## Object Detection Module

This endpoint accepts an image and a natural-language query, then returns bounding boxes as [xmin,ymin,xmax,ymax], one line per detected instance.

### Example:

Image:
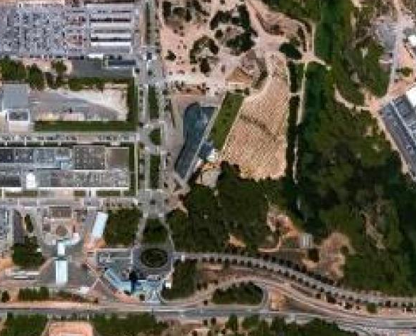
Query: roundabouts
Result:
[132,244,176,276]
